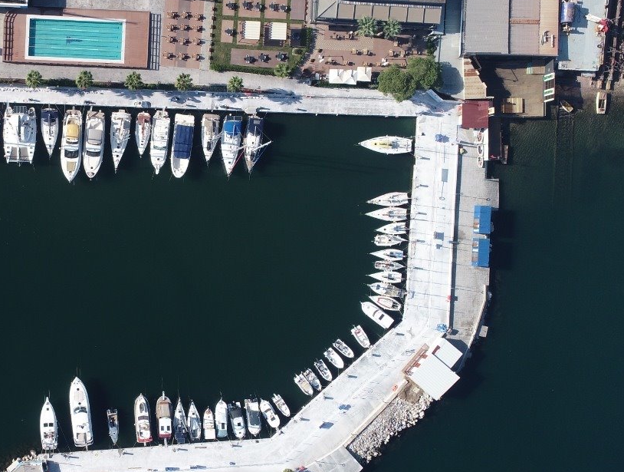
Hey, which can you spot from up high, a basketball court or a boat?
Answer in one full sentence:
Looking from above, you can make out a boat.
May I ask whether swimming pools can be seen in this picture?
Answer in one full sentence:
Yes, looking at the shot, I can spot a swimming pool.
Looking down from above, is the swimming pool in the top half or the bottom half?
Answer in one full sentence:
The swimming pool is in the top half of the image.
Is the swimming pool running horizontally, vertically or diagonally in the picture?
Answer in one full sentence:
From this overhead view, the swimming pool appears to run horizontally.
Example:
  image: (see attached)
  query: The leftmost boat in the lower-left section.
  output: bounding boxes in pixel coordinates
[37,394,61,460]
